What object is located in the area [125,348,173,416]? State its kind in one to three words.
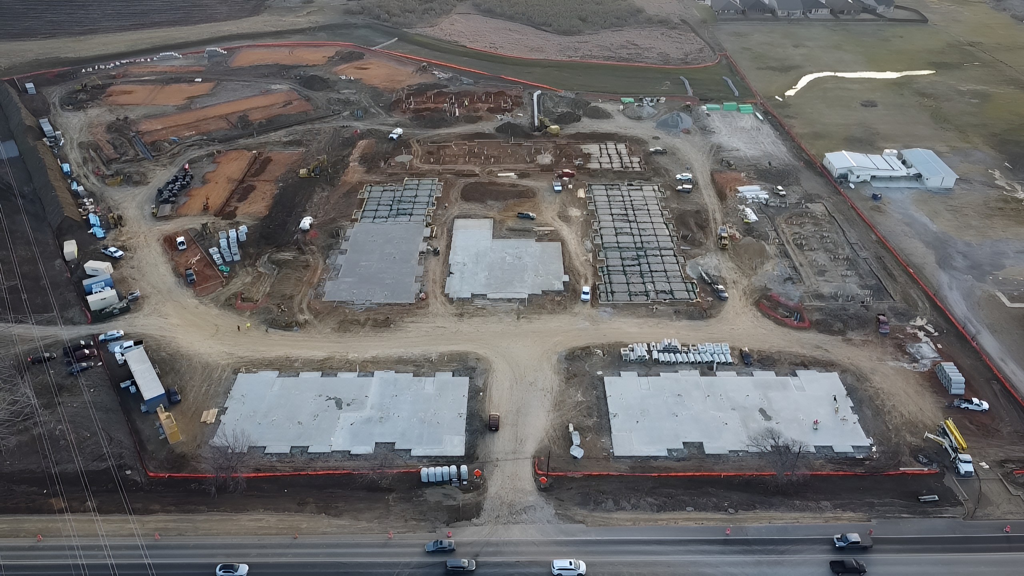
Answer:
trailer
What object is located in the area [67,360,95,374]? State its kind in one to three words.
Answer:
car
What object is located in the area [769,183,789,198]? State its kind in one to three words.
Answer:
vehicle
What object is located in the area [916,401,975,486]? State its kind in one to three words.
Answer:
truck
